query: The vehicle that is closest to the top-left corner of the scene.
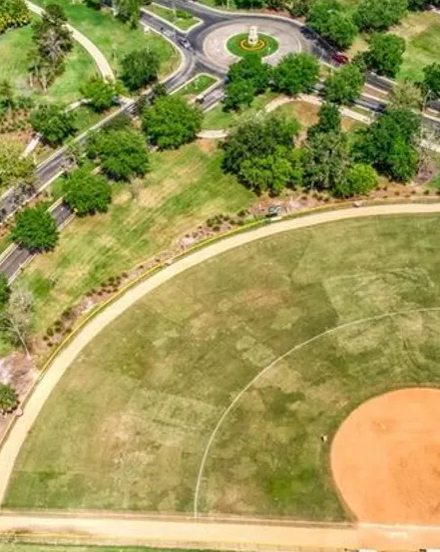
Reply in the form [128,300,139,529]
[160,23,176,36]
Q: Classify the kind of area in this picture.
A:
sports ground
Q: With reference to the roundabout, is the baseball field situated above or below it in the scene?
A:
below it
